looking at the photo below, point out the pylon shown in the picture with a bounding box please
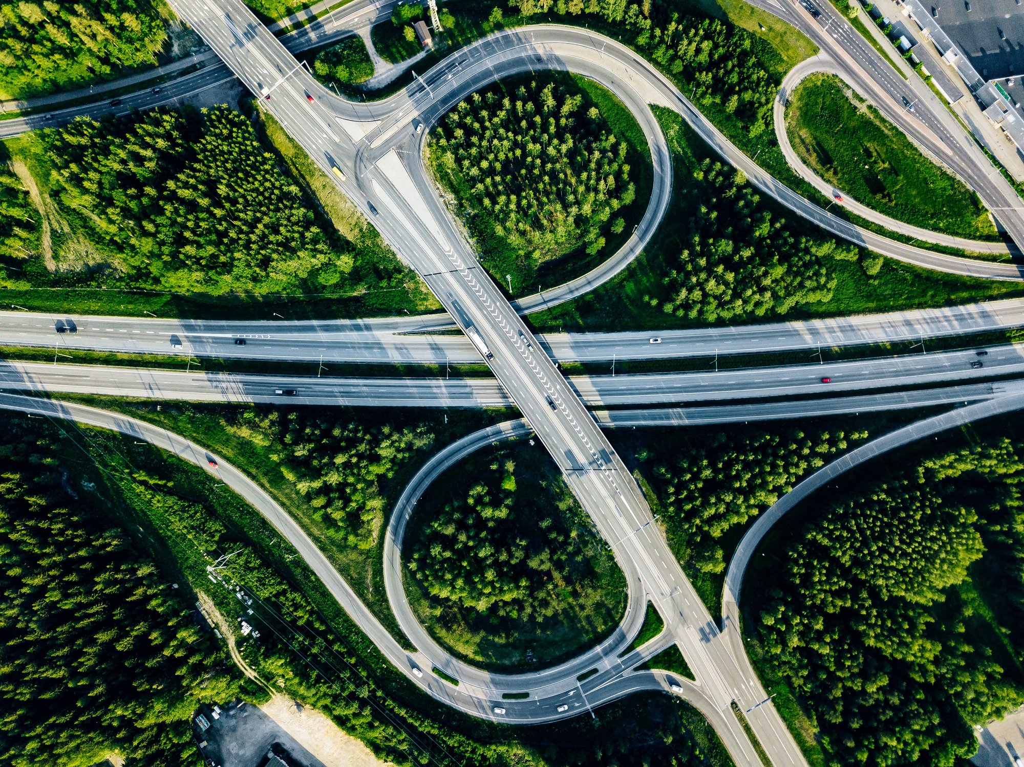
[207,550,243,576]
